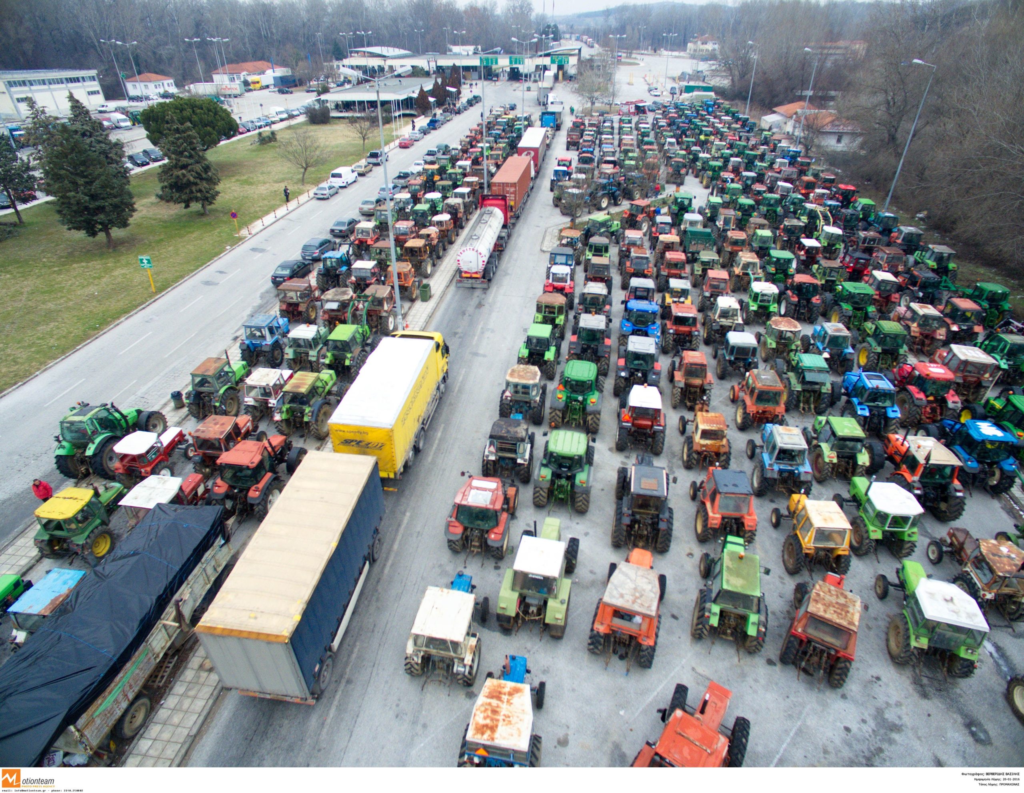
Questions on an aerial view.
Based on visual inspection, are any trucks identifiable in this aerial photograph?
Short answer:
Yes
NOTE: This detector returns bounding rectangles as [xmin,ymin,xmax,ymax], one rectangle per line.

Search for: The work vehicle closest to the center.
[499,371,544,428]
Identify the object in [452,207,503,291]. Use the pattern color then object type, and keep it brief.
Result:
white trailer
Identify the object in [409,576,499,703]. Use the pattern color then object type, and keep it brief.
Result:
white work vehicle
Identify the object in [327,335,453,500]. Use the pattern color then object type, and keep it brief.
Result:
white truck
